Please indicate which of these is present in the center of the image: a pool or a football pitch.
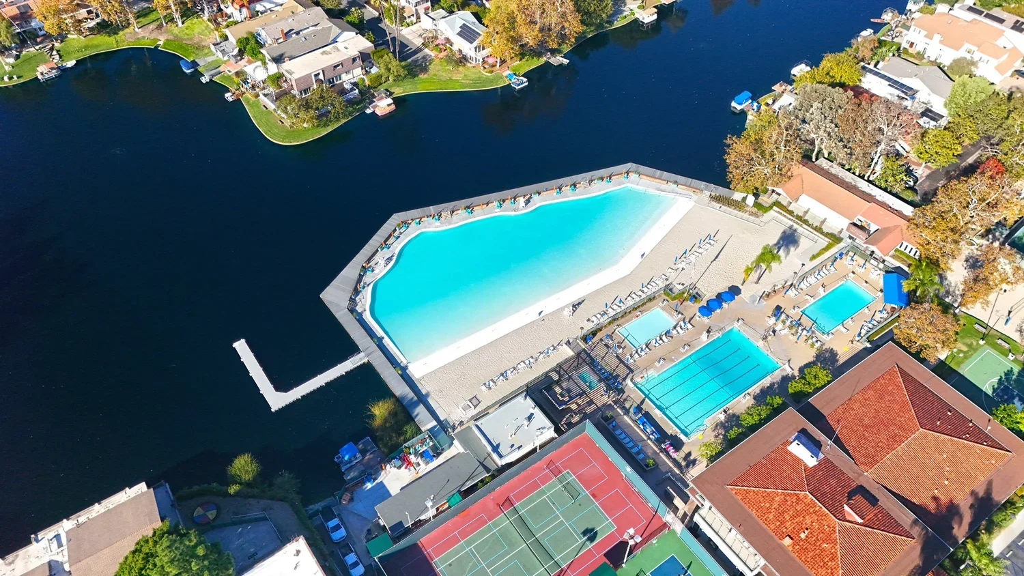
pool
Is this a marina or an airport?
marina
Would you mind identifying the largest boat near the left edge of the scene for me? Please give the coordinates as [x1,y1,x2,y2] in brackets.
[36,64,65,83]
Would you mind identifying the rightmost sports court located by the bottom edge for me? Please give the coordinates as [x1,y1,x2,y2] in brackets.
[625,528,715,576]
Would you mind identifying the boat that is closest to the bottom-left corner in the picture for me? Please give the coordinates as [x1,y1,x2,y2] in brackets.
[334,435,363,465]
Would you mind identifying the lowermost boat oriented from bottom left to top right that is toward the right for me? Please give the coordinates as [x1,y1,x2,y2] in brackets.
[727,86,757,112]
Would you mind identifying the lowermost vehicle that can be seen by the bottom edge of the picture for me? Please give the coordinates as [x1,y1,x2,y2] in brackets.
[338,536,367,576]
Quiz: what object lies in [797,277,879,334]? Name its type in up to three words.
swimming pool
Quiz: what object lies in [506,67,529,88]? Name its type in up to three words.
boat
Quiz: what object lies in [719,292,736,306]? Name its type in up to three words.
umbrella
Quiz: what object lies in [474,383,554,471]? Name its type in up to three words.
building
